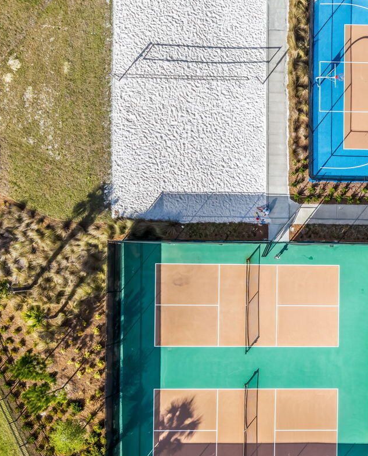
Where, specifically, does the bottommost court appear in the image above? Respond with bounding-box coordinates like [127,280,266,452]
[152,389,339,456]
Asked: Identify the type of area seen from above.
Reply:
sports ground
